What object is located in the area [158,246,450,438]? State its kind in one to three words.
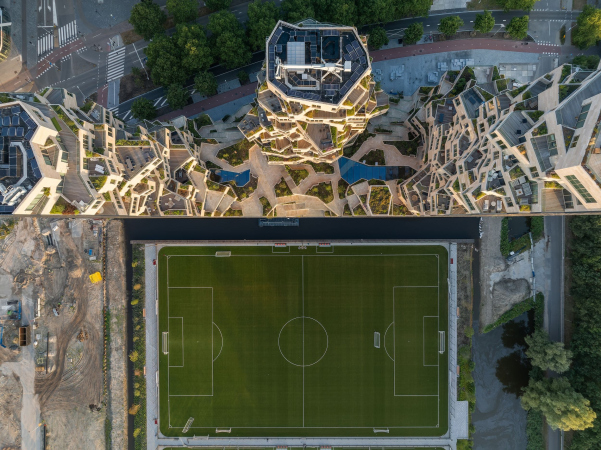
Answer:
soccer field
